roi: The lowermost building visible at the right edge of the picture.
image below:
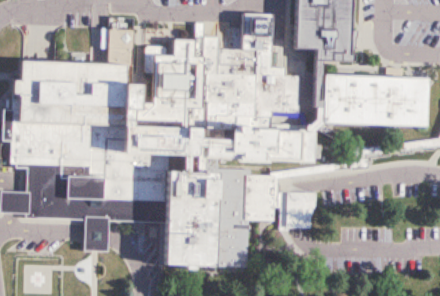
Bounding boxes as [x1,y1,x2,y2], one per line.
[324,67,430,128]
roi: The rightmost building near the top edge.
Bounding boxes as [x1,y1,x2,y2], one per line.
[295,0,354,65]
